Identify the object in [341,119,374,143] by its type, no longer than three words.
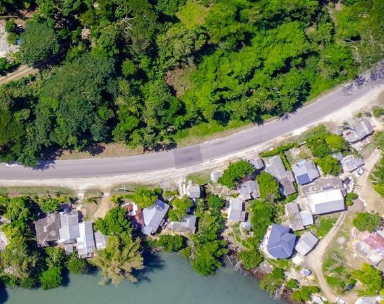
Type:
house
